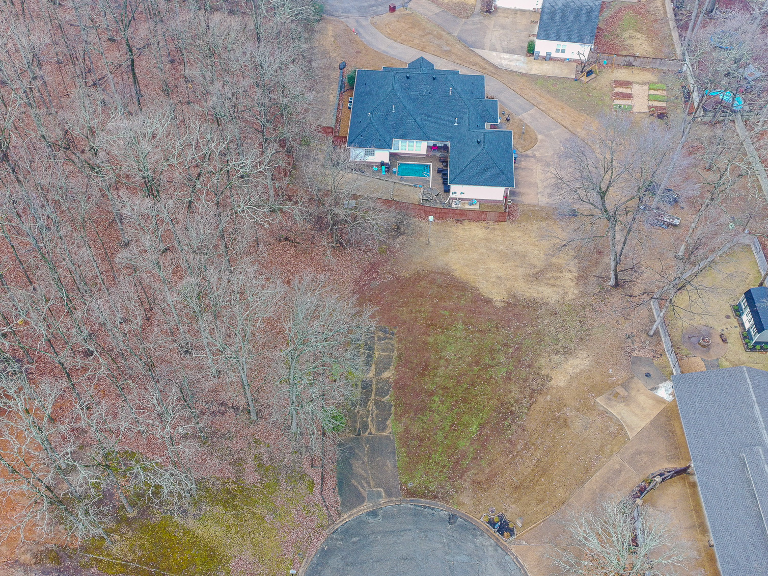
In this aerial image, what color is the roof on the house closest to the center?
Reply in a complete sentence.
From above, the roof of the house closest to the center looks blue.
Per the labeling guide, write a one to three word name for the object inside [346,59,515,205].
house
